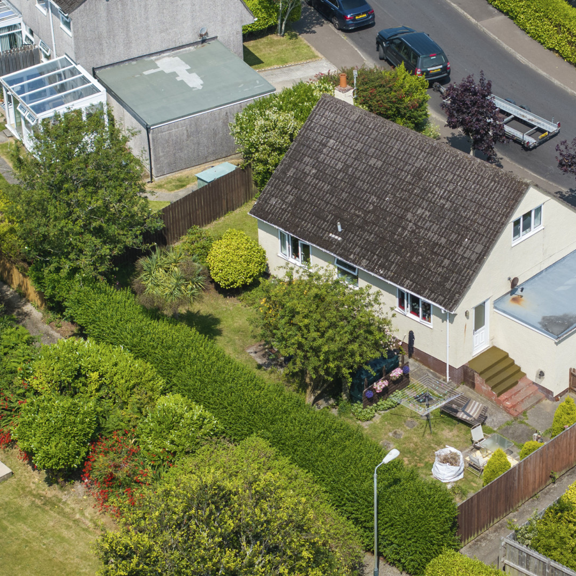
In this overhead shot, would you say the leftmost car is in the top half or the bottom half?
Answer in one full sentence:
The leftmost car is in the top half of the image.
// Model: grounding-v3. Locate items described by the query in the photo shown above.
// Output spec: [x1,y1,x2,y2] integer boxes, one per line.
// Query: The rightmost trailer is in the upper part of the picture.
[436,83,559,148]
